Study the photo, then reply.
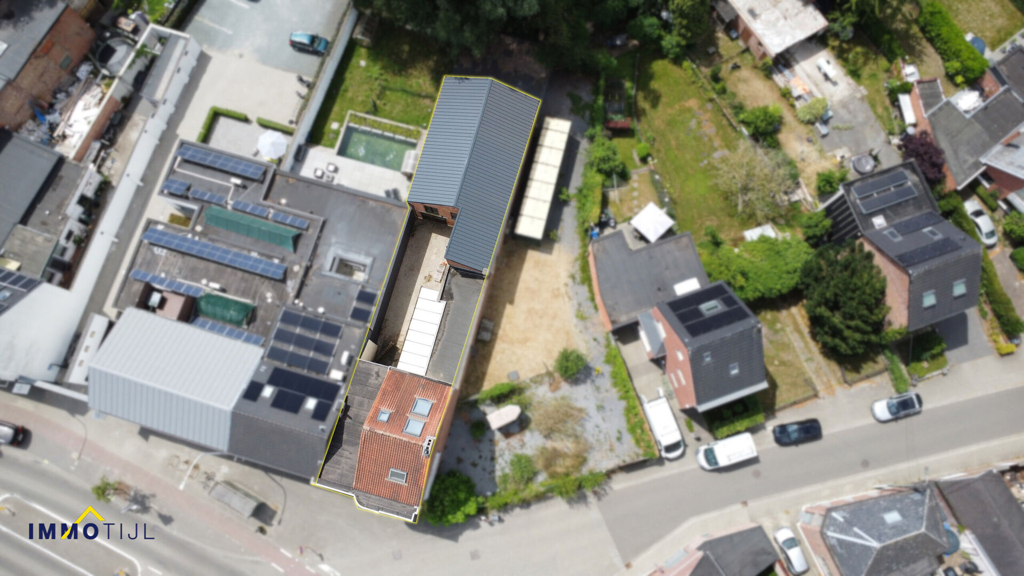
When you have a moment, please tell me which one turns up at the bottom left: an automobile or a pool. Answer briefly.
automobile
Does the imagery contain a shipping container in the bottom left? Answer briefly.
No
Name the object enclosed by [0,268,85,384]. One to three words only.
house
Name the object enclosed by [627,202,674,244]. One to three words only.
gazebo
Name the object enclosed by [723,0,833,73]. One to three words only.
building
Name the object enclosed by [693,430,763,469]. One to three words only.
van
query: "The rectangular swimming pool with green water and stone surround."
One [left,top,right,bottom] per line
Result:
[335,109,429,172]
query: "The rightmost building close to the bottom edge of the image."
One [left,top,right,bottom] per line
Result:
[905,467,1024,576]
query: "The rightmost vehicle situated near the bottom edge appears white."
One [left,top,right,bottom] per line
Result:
[769,522,814,576]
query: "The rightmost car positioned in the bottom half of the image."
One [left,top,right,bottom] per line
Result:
[869,392,926,422]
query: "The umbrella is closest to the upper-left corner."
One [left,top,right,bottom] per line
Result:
[248,120,280,150]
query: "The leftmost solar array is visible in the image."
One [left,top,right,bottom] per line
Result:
[0,269,38,289]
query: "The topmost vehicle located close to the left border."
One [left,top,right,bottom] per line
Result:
[0,420,27,447]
